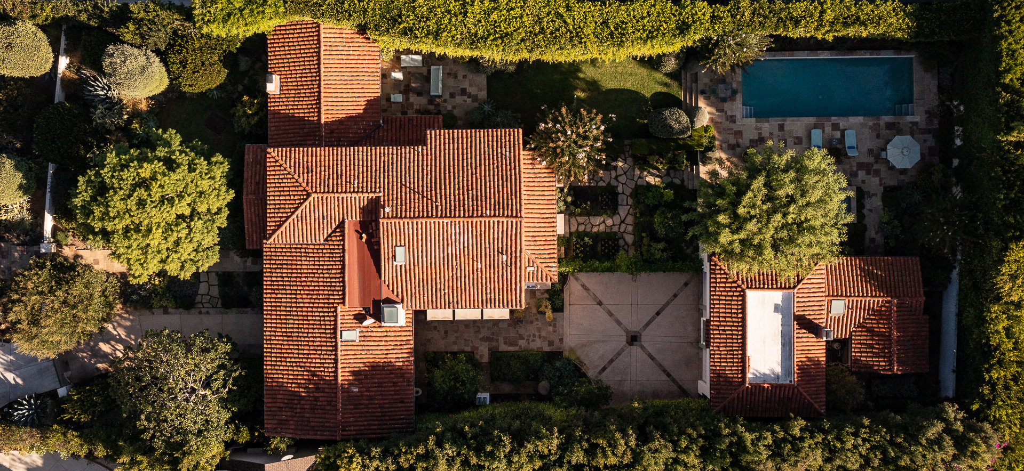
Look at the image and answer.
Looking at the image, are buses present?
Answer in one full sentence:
No, I can see no bus in this picture.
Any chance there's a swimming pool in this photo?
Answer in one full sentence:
Yes, a swimming pool can be made out from above.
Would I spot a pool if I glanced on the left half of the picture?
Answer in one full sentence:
No, there's no pool to be seen on the left half of the picture.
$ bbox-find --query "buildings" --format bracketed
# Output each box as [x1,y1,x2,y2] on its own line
[243,17,564,442]
[692,251,932,420]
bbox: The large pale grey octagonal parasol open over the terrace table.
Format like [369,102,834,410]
[880,136,917,169]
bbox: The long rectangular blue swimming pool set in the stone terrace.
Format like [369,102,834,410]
[742,57,913,118]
